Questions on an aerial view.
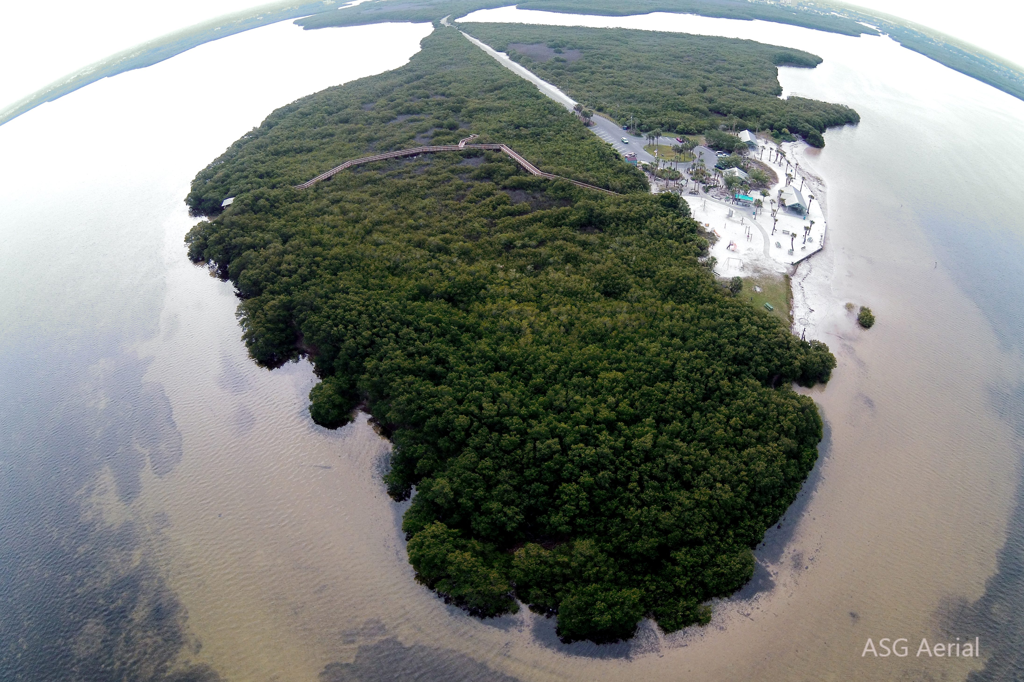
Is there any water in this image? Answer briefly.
Yes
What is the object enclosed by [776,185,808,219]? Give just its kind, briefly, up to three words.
building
